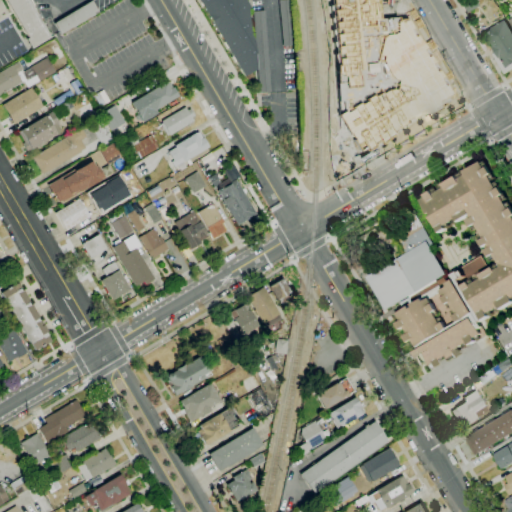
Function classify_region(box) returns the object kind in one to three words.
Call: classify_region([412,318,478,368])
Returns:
building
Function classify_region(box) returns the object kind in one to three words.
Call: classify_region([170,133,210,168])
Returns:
building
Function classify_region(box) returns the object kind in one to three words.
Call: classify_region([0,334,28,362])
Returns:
house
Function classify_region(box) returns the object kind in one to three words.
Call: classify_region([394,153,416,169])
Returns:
vehicle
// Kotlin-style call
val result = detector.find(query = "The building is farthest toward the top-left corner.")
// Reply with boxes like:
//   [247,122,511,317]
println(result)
[6,0,54,50]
